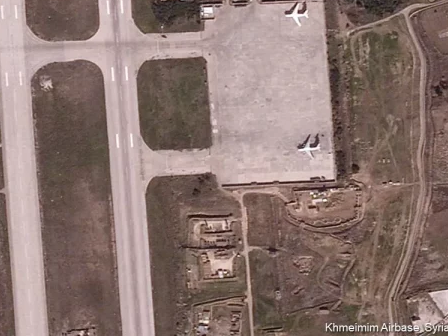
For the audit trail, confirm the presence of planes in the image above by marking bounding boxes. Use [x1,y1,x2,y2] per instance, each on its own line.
[285,4,308,28]
[297,137,321,161]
